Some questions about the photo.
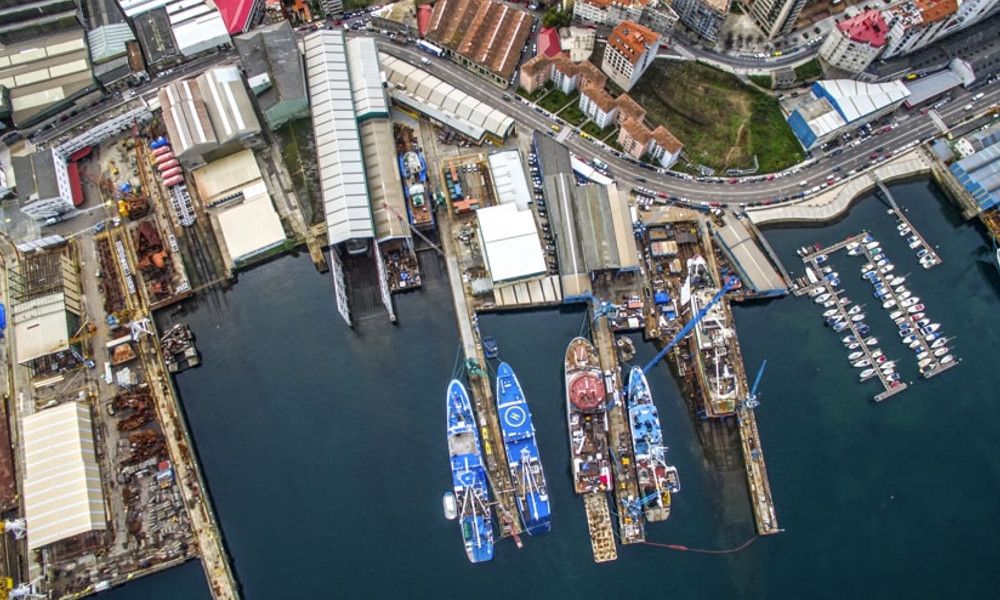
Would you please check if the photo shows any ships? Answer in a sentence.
Yes, the picture does show a ship.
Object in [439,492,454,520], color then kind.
white boat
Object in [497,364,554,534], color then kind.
blue ship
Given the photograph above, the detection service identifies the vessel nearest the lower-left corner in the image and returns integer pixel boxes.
[161,320,202,375]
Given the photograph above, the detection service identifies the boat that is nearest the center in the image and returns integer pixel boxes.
[482,337,498,359]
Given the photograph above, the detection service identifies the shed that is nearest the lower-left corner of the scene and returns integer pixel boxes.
[21,402,105,550]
